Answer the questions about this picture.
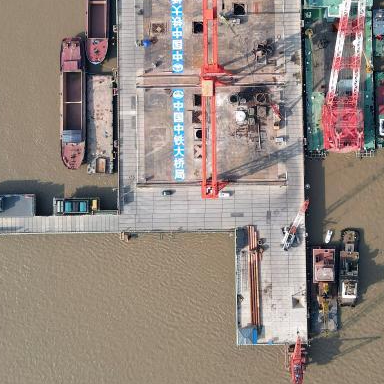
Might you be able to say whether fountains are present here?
No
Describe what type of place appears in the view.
port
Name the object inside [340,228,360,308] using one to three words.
boat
